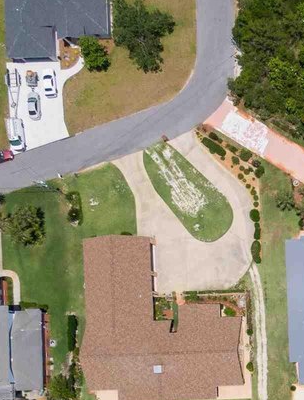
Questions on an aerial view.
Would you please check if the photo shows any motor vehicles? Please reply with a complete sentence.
Yes, there is a motor vehicle in the image.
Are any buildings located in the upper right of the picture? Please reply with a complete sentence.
No, looking in the upper right of the picture, there is no building.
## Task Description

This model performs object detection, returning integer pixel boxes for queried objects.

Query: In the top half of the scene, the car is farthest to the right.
[43,69,59,98]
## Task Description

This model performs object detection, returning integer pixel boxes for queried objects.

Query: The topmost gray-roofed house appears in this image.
[4,0,114,62]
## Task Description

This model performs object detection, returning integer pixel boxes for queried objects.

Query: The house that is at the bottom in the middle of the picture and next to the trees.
[79,236,246,400]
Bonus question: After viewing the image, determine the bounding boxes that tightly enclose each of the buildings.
[0,280,51,400]
[4,0,114,62]
[79,236,246,400]
[286,235,304,385]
